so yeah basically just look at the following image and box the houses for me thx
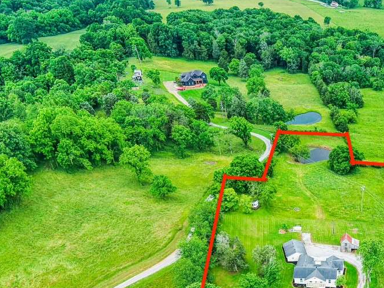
[176,72,209,89]
[283,237,346,288]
